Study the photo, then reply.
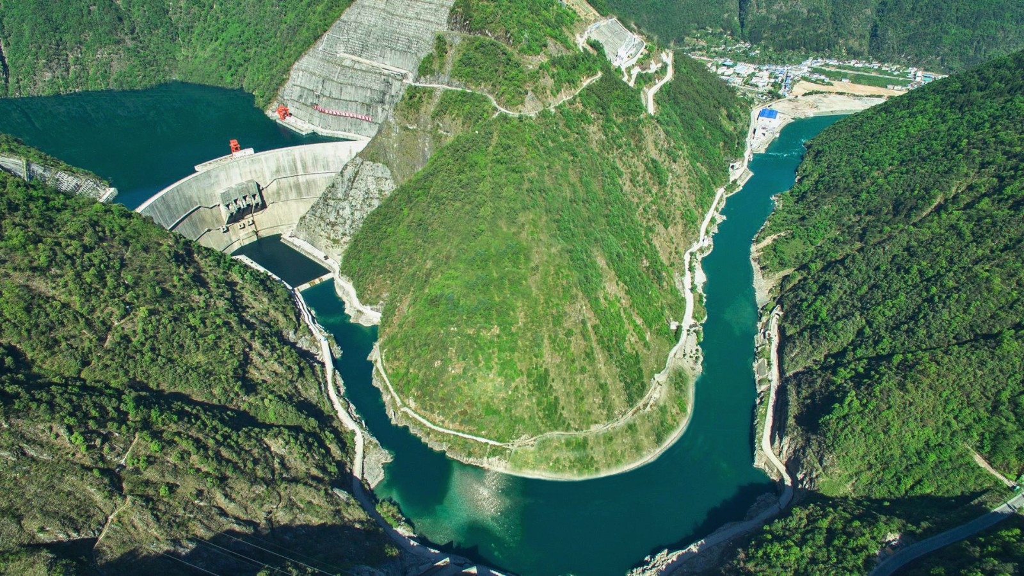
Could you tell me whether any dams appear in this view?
Yes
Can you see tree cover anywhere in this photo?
Yes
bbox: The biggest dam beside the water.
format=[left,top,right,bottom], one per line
[128,138,379,251]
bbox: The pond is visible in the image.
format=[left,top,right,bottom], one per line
[0,81,341,213]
